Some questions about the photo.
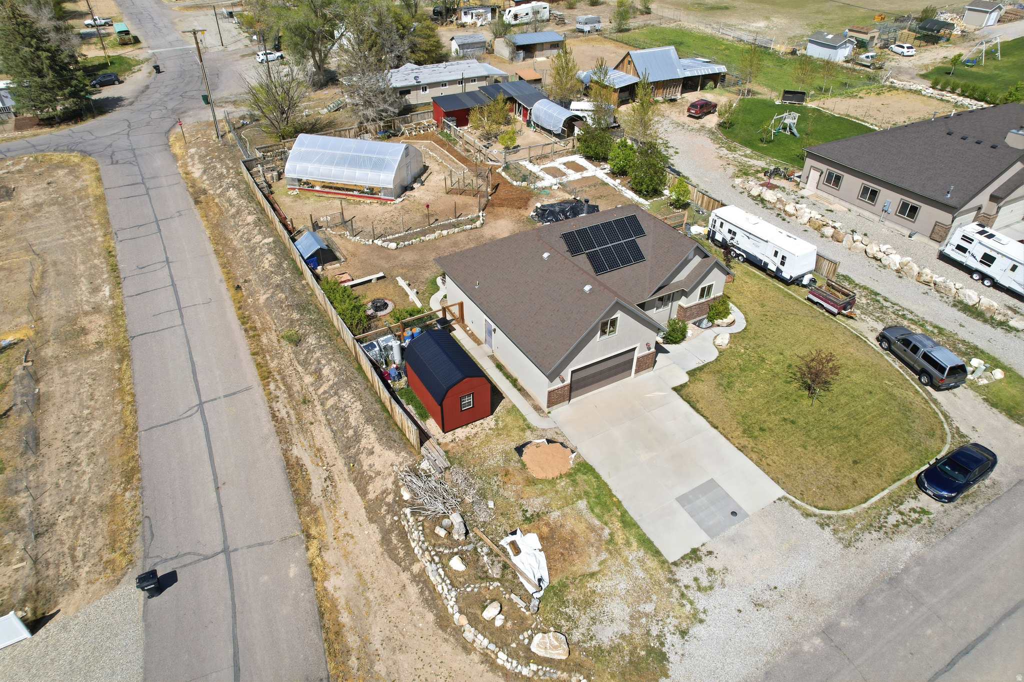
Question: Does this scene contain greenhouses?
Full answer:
Yes, looking at the shot, I can spot a greenhouse.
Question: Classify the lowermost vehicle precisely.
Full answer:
The lowermost vehicle appears to be a car.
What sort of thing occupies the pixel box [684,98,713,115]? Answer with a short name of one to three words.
car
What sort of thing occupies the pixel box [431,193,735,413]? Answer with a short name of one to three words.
house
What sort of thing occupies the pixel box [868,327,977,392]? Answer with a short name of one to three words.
truck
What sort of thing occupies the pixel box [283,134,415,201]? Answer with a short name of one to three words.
greenhouse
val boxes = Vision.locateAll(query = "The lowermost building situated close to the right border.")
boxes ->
[794,93,1024,251]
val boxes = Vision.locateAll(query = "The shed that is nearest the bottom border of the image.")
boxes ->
[402,328,495,433]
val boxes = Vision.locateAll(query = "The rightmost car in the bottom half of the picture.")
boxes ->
[927,440,1004,497]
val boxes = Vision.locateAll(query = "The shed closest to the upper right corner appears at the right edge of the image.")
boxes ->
[933,3,993,30]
